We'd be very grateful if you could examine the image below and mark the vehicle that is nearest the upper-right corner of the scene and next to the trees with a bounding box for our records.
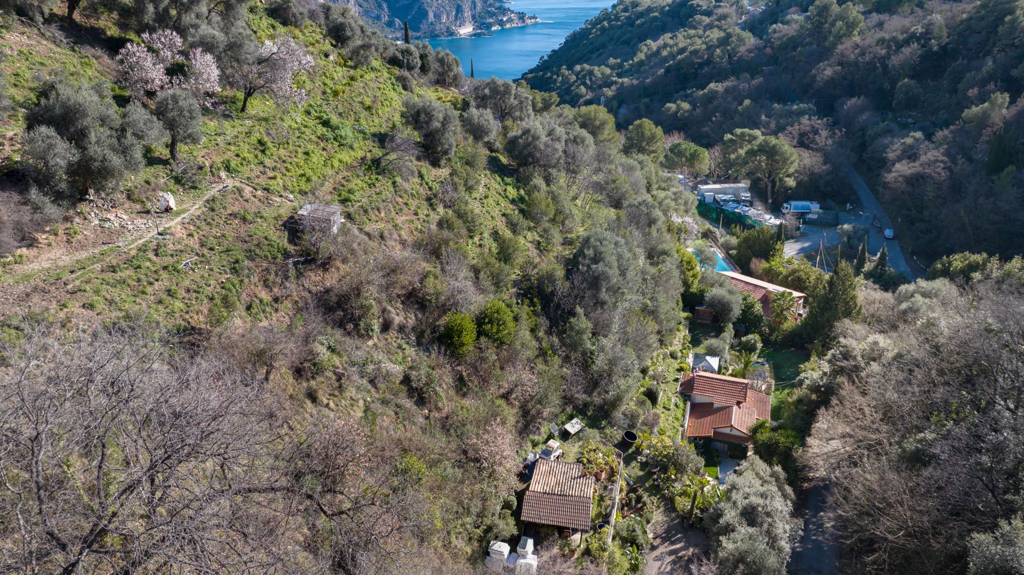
[883,227,898,242]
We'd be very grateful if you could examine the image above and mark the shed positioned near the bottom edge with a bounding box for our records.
[517,459,594,549]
